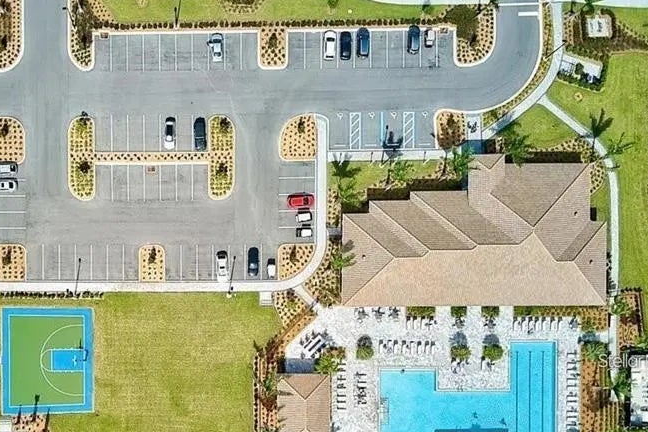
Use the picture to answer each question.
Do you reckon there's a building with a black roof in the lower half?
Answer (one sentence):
No, looking in the lower half, there is no building with a black roof.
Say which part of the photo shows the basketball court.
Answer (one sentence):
You can find the basketball court in the bottom left area of the picture.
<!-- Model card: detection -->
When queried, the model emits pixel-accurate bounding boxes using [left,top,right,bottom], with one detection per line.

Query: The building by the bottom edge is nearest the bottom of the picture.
[277,373,330,432]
